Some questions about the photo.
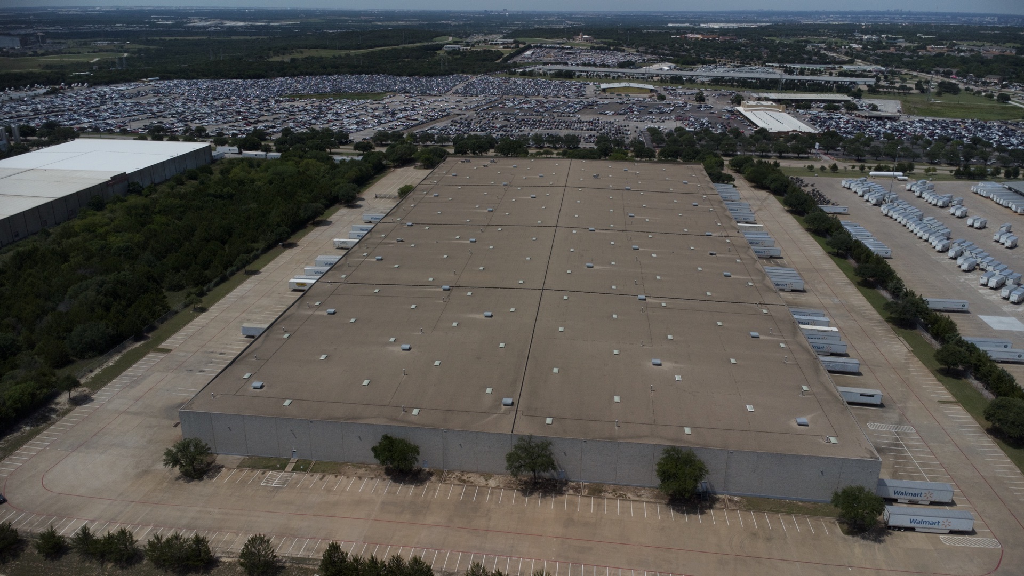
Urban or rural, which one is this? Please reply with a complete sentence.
This place is urban.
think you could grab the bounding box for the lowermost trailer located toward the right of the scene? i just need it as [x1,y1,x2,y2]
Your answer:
[885,505,976,533]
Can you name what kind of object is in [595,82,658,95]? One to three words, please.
shed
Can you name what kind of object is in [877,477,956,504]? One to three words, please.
trailer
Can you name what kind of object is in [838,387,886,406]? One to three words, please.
trailer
